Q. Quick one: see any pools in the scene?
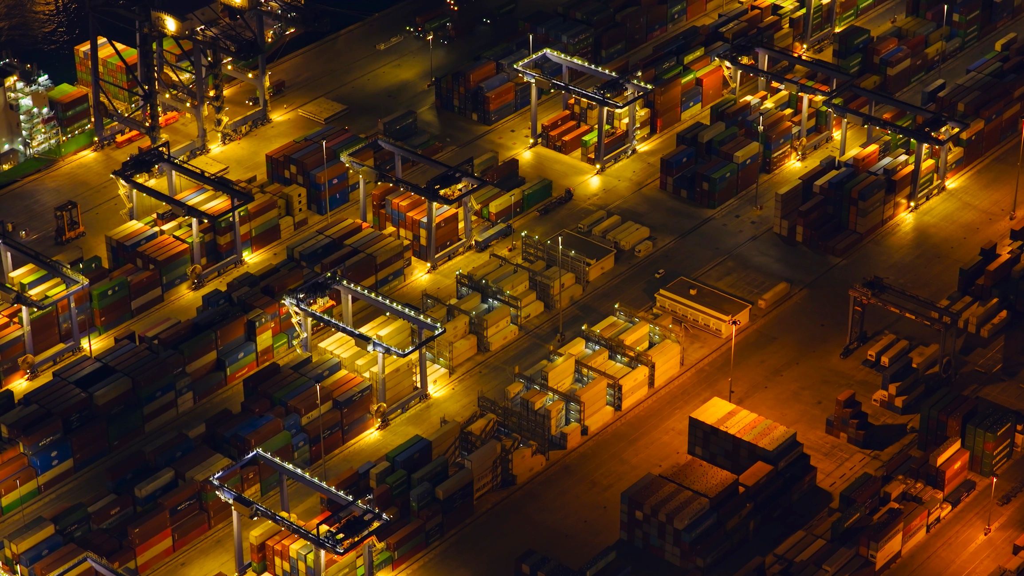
No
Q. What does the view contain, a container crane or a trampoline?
container crane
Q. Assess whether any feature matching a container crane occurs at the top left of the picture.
Yes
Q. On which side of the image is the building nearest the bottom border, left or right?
right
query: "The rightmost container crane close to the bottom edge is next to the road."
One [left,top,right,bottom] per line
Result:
[196,445,393,576]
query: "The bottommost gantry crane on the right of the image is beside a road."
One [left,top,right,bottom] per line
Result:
[836,254,967,396]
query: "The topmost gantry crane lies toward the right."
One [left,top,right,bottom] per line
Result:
[804,0,843,50]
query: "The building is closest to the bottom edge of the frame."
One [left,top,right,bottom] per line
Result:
[648,277,750,341]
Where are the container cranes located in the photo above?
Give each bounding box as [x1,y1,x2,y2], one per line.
[813,80,976,210]
[100,147,256,287]
[196,445,393,576]
[0,235,94,376]
[273,268,450,426]
[506,47,658,172]
[147,0,294,146]
[836,254,967,396]
[707,34,862,159]
[51,0,232,177]
[331,136,491,272]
